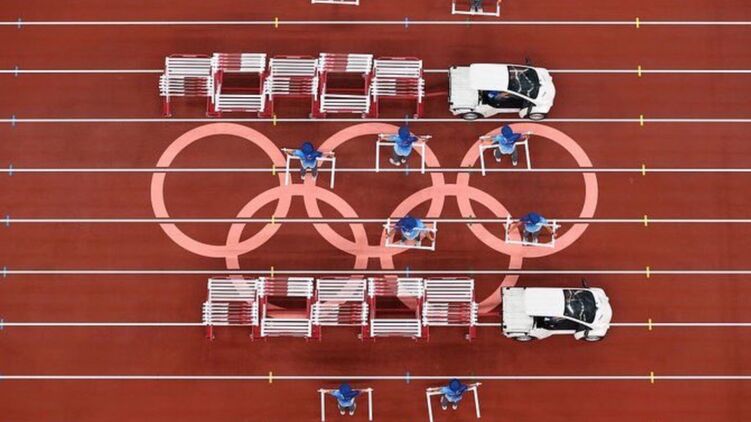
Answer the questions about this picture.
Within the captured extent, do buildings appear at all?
No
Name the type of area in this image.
sports ground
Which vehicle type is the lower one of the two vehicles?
car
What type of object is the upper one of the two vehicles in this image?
car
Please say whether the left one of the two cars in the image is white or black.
white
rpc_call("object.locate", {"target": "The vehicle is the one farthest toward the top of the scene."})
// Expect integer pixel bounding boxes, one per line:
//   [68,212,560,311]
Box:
[448,56,555,119]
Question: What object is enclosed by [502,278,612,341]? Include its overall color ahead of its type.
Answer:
white car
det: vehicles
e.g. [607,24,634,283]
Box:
[448,56,555,119]
[502,278,612,341]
